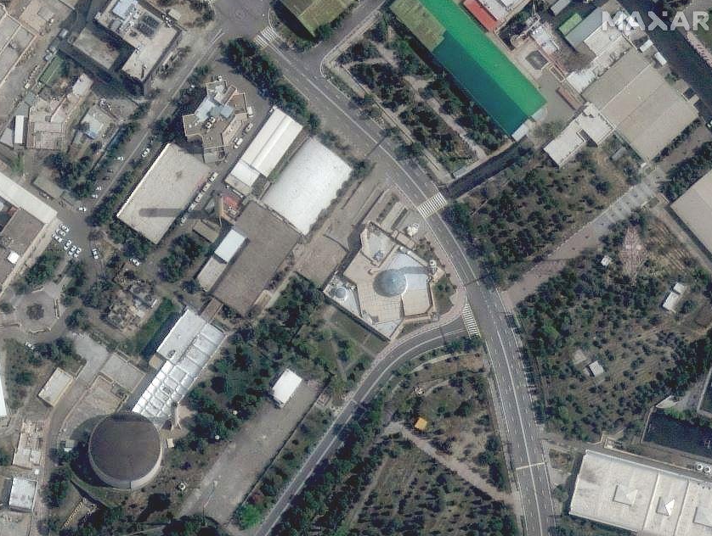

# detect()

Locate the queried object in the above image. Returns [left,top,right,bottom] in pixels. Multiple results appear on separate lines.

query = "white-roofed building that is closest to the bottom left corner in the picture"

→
[9,477,36,512]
